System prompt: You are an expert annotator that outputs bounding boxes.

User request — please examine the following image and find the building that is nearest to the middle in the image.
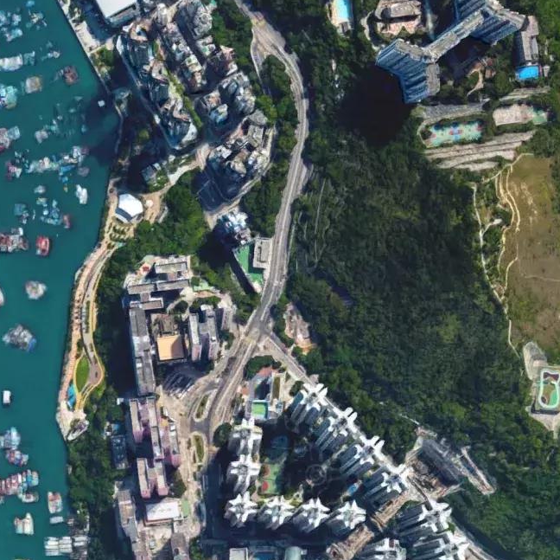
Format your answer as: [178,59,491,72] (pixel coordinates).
[251,237,274,274]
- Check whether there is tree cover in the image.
Yes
